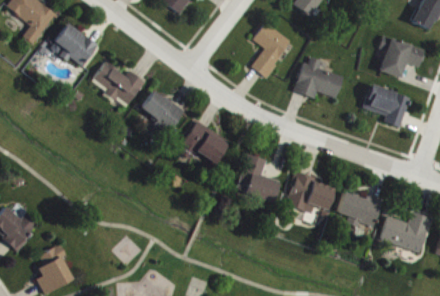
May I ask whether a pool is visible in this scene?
Yes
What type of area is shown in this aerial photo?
residential area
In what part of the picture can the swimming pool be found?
top left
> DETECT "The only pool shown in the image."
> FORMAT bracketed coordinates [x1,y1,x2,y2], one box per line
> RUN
[32,47,81,85]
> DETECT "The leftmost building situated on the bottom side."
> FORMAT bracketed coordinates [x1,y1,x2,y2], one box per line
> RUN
[0,208,33,252]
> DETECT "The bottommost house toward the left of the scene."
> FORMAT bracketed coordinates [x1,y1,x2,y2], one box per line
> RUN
[38,246,74,295]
